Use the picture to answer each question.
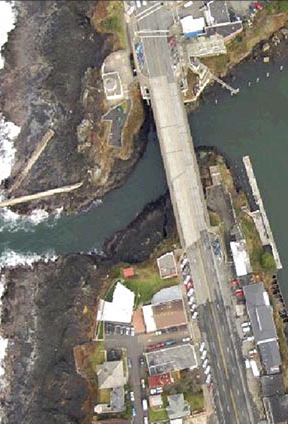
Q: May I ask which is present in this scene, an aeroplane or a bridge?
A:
bridge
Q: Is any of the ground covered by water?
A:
Yes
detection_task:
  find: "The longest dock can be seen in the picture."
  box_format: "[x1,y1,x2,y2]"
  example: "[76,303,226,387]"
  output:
[244,155,282,269]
